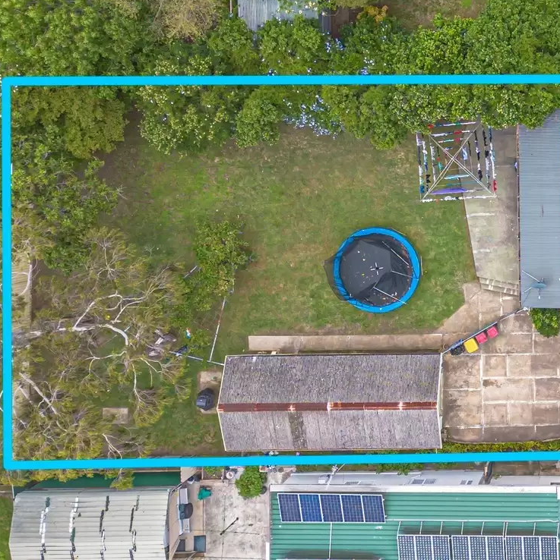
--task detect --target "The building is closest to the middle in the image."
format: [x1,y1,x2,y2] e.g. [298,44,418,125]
[215,350,448,452]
